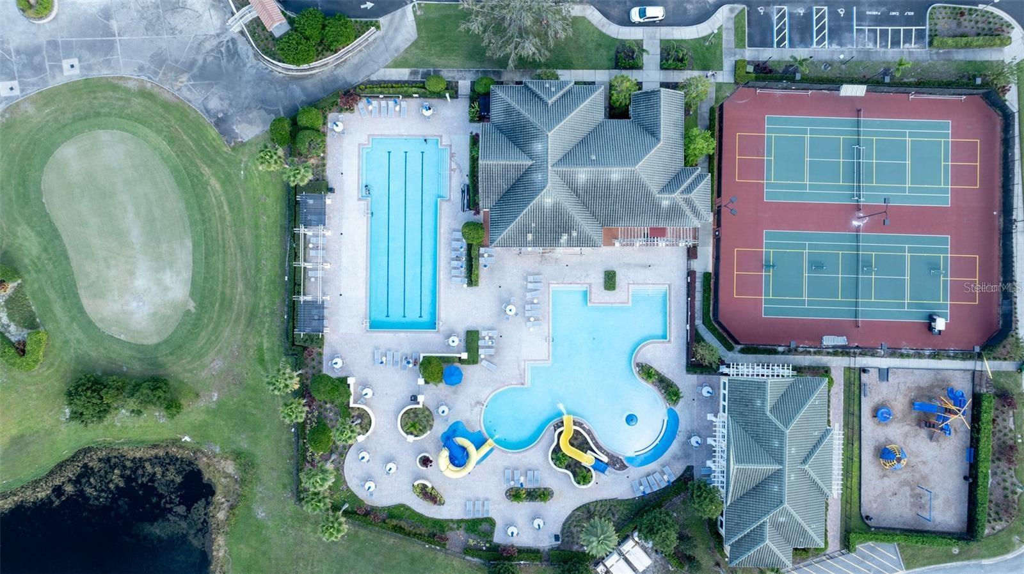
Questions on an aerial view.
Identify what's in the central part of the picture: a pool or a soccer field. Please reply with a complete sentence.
The feature located in the central part of the picture is a pool.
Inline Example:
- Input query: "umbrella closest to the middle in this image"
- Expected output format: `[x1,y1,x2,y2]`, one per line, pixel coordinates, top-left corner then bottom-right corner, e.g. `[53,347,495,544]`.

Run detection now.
[442,365,463,386]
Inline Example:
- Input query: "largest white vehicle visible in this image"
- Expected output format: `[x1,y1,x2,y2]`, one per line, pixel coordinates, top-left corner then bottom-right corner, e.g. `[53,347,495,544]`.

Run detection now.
[630,4,666,23]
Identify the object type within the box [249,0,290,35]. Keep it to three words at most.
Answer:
building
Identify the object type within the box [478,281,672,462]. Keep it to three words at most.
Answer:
swimming pool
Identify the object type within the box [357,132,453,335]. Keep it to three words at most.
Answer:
swimming pool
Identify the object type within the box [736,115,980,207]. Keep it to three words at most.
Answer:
tennis court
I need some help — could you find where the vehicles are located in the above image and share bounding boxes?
[925,314,947,336]
[630,4,666,23]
